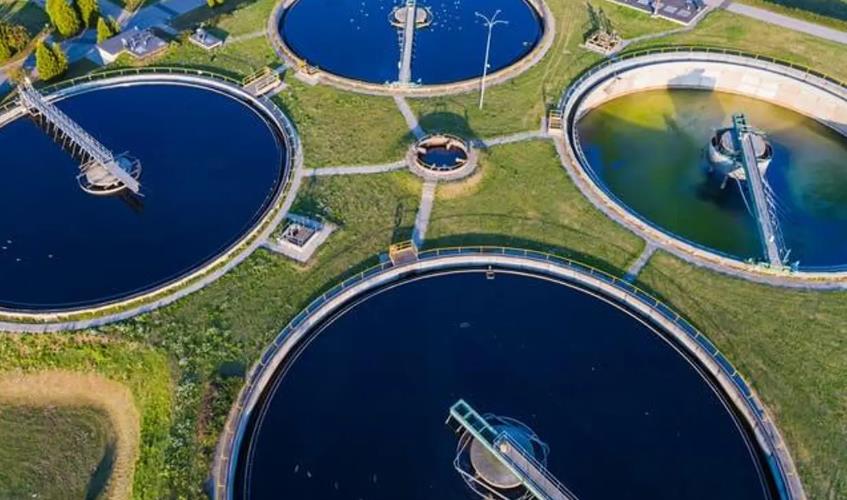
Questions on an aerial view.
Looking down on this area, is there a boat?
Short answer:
No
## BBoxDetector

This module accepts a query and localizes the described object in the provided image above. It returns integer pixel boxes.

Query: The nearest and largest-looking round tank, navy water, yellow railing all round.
[217,243,800,500]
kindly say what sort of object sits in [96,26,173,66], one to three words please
building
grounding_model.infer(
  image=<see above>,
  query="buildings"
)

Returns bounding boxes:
[96,26,173,66]
[603,0,709,26]
[189,31,225,54]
